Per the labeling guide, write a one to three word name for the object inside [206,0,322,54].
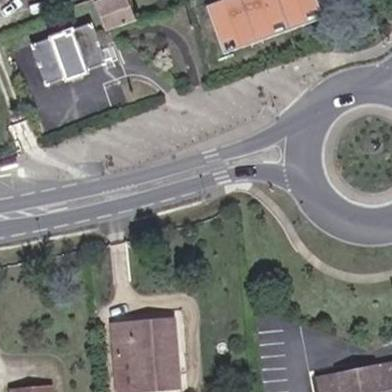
house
